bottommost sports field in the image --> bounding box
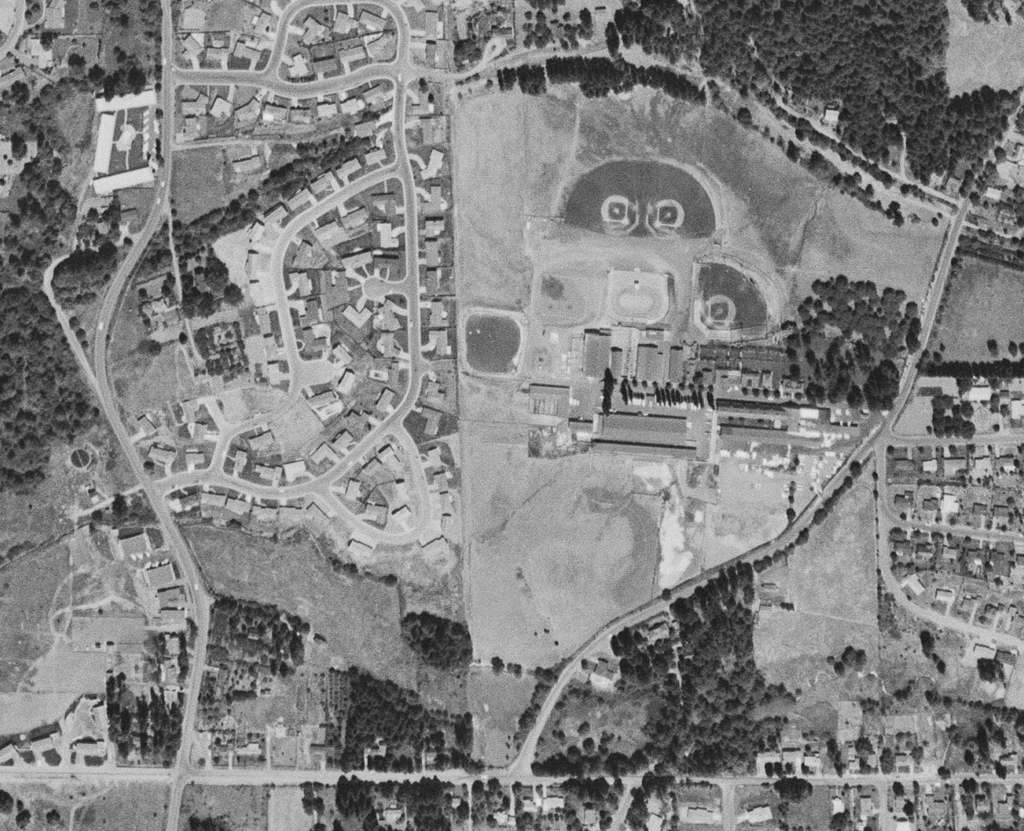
[466,314,520,372]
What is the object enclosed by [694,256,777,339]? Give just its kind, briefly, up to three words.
baseball field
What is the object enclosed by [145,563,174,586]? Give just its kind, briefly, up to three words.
house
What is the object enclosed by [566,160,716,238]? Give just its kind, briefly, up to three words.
baseball field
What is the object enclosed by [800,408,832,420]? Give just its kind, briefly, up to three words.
building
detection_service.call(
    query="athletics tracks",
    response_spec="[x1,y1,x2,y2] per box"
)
[609,271,675,322]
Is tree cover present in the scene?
Yes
